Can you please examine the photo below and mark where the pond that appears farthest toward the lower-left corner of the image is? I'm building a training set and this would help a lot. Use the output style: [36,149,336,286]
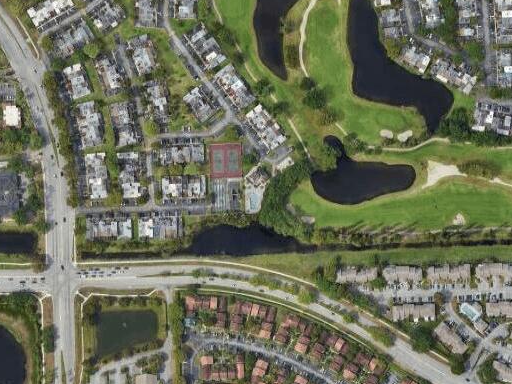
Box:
[93,309,159,361]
